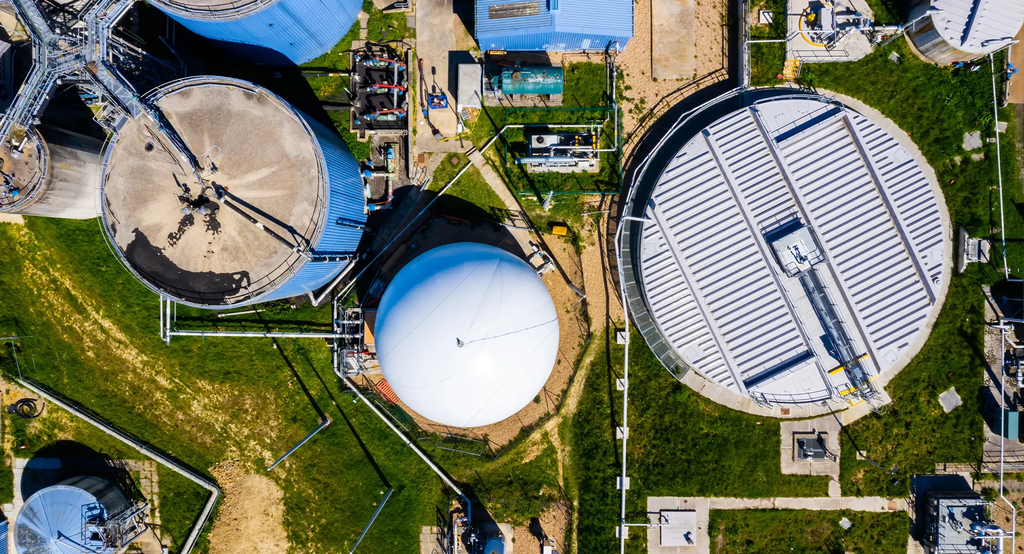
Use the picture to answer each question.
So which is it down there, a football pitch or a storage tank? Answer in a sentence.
I can see a storage tank in this picture.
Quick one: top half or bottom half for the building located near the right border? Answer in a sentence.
You can find the building located near the right border in the bottom half.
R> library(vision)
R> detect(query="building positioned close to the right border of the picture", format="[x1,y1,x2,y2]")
[923,490,1013,554]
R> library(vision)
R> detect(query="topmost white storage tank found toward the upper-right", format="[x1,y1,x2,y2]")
[902,0,1024,68]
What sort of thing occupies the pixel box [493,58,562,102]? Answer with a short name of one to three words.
storage tank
